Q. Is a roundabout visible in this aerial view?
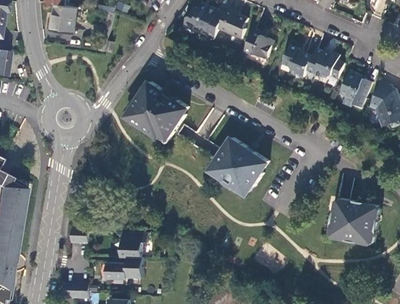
Yes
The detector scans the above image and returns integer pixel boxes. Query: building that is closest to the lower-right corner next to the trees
[327,198,382,247]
